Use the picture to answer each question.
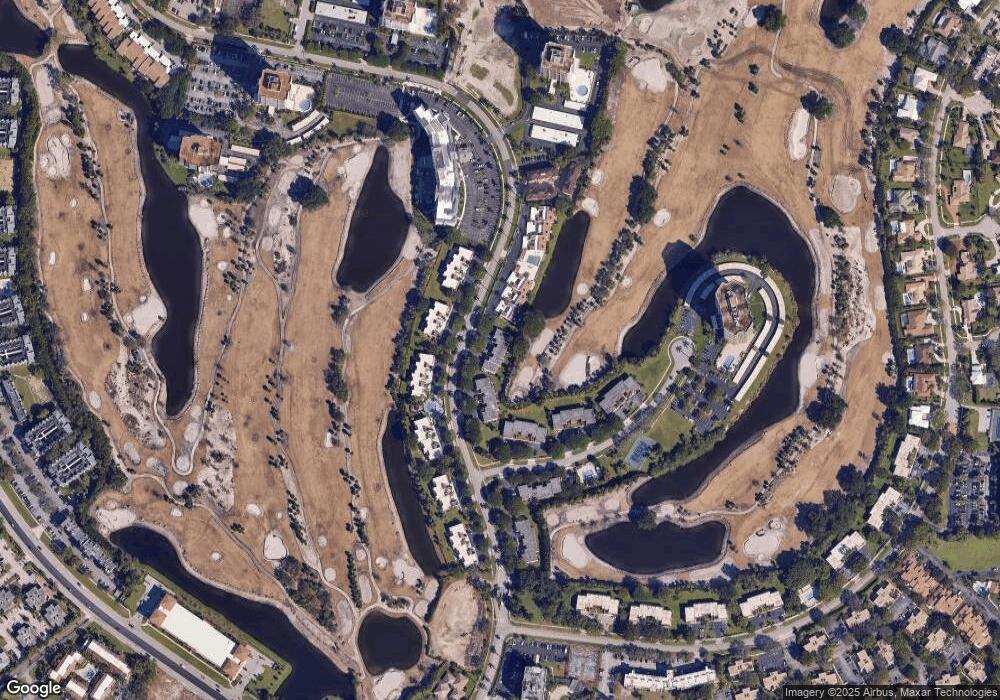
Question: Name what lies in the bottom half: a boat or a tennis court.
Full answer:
It is a tennis court that can be seen in the bottom half.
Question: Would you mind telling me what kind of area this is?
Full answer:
This image shows a golf course.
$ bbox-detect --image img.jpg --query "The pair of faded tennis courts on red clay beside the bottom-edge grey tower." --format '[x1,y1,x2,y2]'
[569,644,601,679]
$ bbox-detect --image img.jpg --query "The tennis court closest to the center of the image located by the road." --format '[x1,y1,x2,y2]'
[623,432,657,469]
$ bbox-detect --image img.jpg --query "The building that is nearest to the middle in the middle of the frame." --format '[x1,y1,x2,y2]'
[481,330,509,375]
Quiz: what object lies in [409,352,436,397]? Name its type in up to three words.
building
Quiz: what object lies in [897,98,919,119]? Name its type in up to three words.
house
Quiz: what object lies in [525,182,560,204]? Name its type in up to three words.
house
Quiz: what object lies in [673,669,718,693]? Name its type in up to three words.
building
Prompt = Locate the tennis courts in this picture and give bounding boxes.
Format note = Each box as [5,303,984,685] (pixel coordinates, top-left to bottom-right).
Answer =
[623,432,657,469]
[569,644,601,679]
